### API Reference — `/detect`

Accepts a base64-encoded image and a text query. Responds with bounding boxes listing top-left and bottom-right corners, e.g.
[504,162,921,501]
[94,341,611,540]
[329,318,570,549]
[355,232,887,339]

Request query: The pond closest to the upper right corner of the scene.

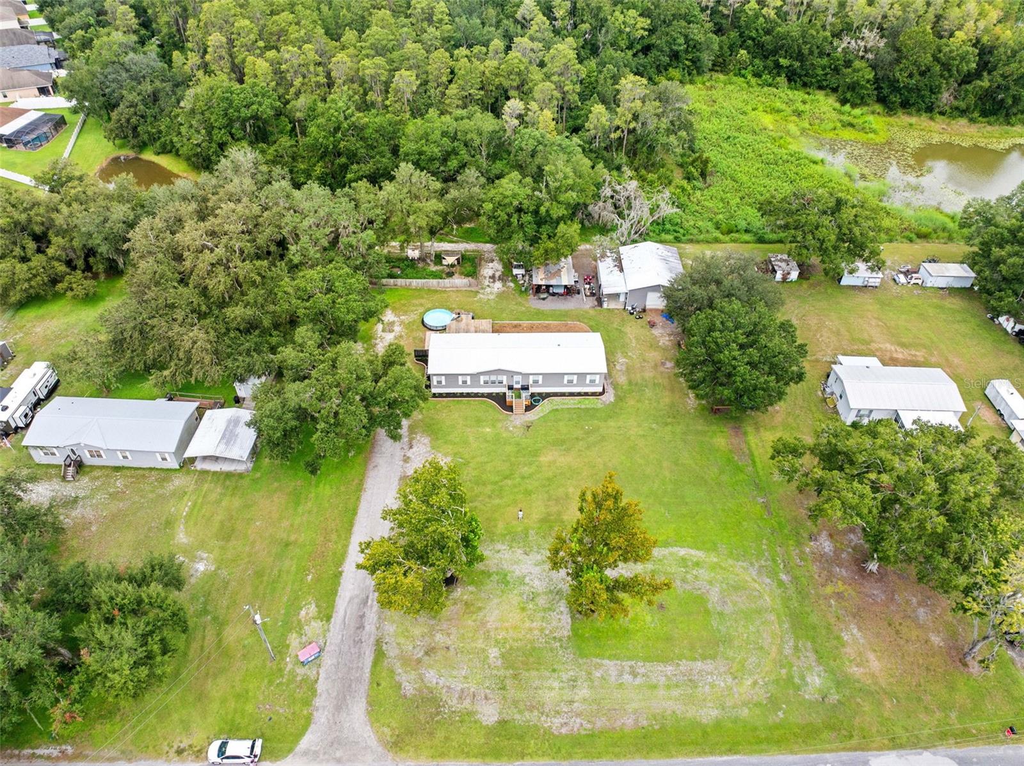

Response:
[806,132,1024,212]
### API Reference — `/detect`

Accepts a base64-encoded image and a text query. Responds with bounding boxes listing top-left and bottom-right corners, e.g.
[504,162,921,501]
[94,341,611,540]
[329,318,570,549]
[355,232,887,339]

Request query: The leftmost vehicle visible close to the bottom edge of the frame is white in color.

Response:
[206,736,266,766]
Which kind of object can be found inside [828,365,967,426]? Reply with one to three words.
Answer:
house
